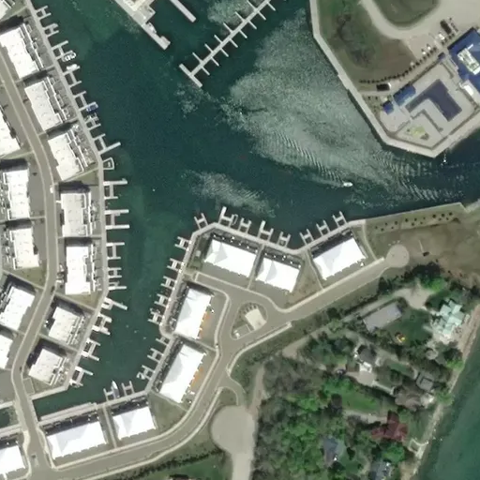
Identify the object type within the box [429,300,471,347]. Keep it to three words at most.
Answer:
house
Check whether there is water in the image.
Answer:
Yes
